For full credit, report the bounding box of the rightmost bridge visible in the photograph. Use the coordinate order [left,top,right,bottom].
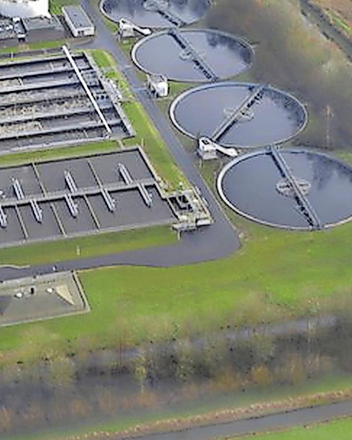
[269,141,322,230]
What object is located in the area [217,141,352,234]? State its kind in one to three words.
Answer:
storage tank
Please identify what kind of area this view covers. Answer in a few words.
industrial area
